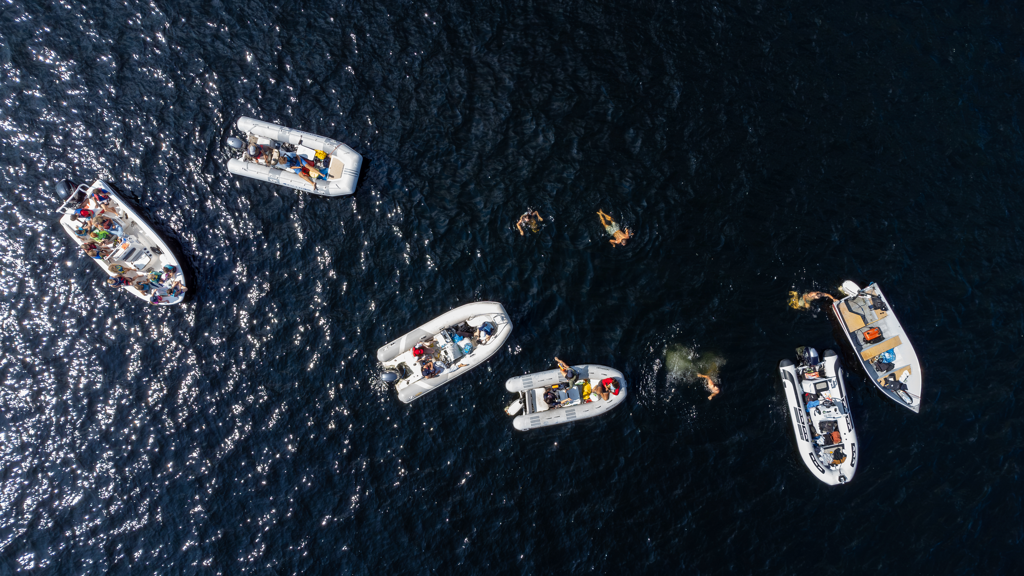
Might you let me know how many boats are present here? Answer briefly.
6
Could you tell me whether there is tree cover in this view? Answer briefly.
No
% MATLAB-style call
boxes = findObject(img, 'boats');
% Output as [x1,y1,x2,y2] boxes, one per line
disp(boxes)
[780,346,858,484]
[830,280,923,414]
[377,301,511,404]
[506,364,627,431]
[56,179,188,305]
[227,116,363,196]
